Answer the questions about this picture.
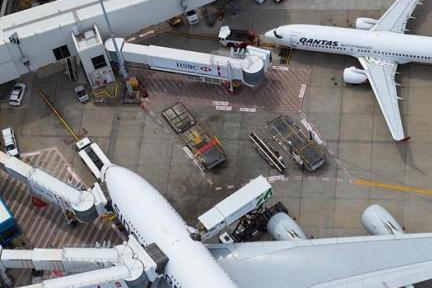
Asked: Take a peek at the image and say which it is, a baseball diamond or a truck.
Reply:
truck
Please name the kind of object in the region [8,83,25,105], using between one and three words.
car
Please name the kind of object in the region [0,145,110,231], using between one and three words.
jet bridge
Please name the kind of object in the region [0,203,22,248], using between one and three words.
bus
